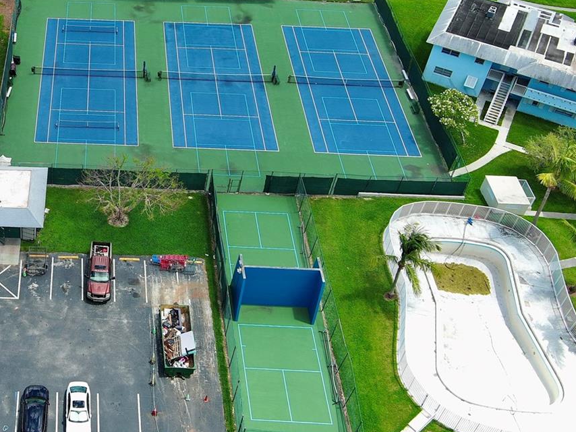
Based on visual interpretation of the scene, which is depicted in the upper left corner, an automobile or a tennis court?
tennis court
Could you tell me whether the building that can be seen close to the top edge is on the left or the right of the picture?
right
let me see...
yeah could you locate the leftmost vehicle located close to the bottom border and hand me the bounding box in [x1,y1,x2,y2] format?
[19,386,49,432]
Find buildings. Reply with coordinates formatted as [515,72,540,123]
[0,166,48,244]
[421,0,576,129]
[479,175,540,220]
